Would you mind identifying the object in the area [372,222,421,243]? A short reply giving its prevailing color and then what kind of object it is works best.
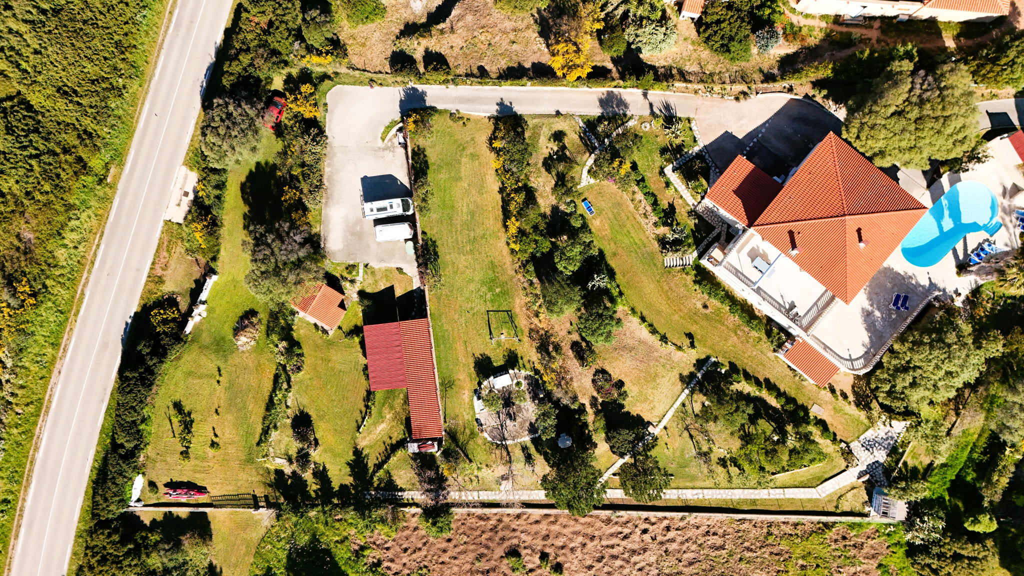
white camper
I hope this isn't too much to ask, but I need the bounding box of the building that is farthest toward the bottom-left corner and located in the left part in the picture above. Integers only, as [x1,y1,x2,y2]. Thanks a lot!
[289,276,346,336]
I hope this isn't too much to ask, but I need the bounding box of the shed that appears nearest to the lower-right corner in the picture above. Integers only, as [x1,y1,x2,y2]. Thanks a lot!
[868,491,909,520]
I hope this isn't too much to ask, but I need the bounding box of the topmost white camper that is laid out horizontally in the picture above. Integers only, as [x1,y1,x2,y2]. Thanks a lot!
[357,195,416,222]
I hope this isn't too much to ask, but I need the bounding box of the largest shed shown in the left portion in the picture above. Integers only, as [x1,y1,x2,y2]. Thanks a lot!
[363,319,444,439]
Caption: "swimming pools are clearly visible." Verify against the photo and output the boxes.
[899,179,1004,269]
